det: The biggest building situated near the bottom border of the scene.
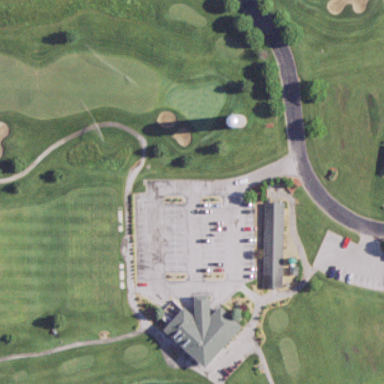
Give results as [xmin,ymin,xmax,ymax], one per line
[162,296,241,366]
